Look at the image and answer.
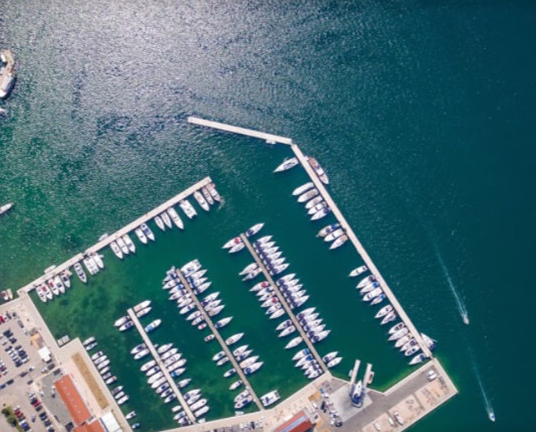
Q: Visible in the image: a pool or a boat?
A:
boat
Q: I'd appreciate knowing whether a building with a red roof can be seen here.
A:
Yes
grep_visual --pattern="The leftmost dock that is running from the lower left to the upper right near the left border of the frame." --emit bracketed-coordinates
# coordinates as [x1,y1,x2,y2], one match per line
[19,252,85,296]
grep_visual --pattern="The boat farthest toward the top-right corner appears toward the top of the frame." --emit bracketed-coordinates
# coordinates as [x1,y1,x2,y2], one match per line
[306,154,329,183]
